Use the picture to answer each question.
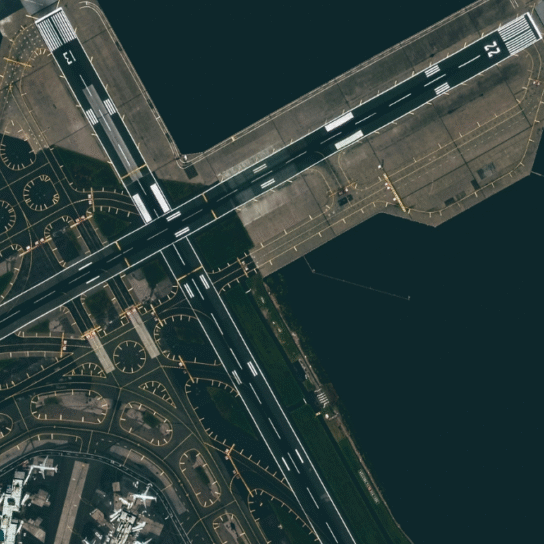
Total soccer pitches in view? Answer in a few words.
none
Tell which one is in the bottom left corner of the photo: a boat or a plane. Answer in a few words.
plane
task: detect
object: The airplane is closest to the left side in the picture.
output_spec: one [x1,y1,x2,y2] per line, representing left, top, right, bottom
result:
[32,457,58,481]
